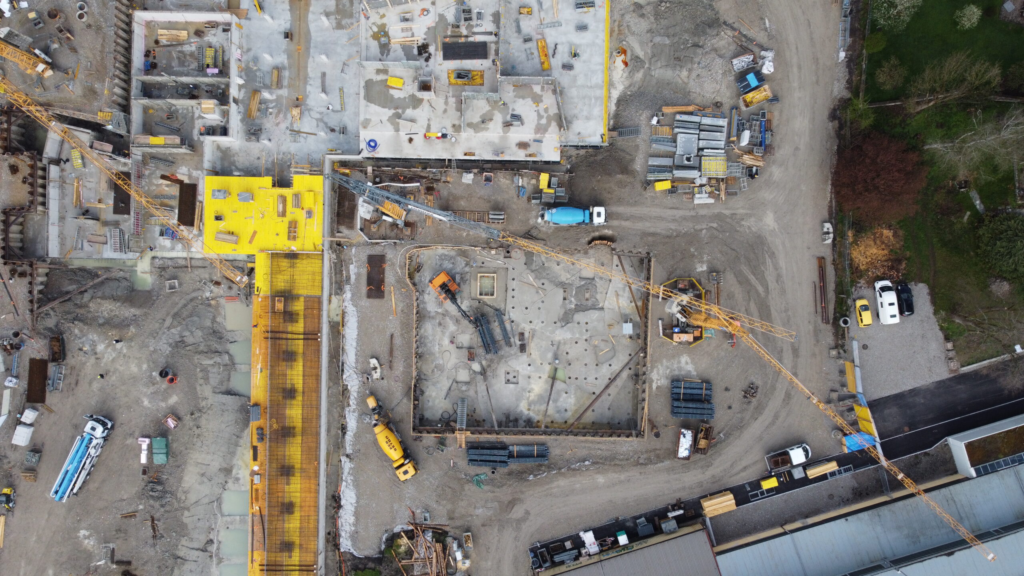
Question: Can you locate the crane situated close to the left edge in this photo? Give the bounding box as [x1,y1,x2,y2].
[0,29,252,290]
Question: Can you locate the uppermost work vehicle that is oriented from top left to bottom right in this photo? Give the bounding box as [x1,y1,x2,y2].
[427,269,485,333]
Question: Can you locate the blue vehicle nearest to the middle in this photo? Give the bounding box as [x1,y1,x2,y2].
[535,204,608,227]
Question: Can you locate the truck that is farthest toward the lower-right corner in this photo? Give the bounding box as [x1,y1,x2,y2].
[764,446,813,473]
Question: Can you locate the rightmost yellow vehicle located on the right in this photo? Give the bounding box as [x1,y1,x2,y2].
[854,299,872,328]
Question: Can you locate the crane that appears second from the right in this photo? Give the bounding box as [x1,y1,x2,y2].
[315,169,800,342]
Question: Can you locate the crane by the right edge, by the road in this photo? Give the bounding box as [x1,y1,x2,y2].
[658,280,999,564]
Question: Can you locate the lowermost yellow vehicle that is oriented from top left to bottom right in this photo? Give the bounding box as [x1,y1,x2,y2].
[370,418,422,489]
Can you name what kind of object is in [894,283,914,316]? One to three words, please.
car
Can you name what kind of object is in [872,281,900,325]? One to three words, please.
van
